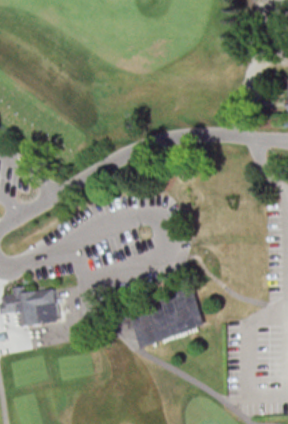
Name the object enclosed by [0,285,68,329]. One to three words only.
building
